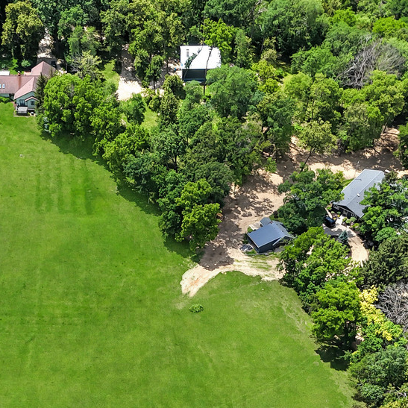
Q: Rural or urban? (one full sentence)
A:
The area shown here is rural.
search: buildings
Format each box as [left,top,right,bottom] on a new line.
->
[0,61,57,113]
[246,220,289,254]
[334,169,388,220]
[179,47,222,82]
